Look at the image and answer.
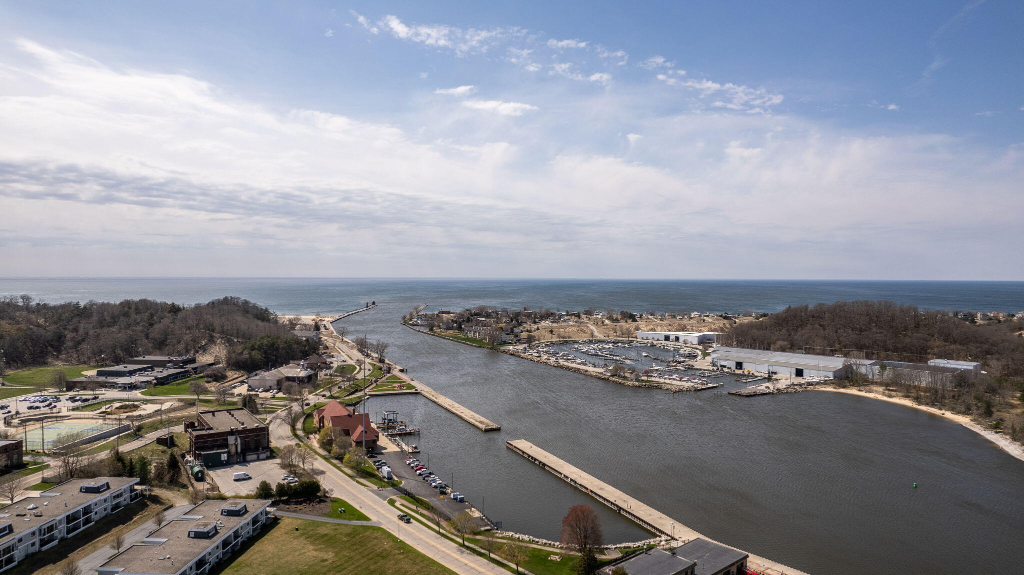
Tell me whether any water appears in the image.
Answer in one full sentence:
Yes, there's water in this view.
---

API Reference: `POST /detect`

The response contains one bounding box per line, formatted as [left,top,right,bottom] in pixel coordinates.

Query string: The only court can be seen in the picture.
[16,422,122,449]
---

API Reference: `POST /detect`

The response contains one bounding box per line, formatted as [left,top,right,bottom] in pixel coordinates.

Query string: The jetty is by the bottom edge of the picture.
[504,440,808,575]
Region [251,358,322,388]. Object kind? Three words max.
building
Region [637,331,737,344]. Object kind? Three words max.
building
